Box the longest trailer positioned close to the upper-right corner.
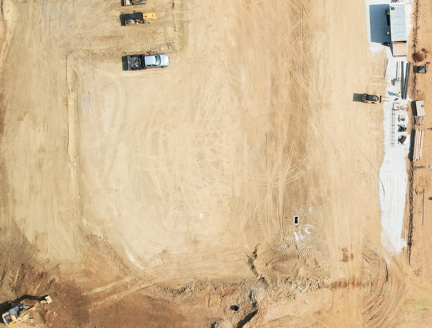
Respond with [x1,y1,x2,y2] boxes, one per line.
[388,1,406,61]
